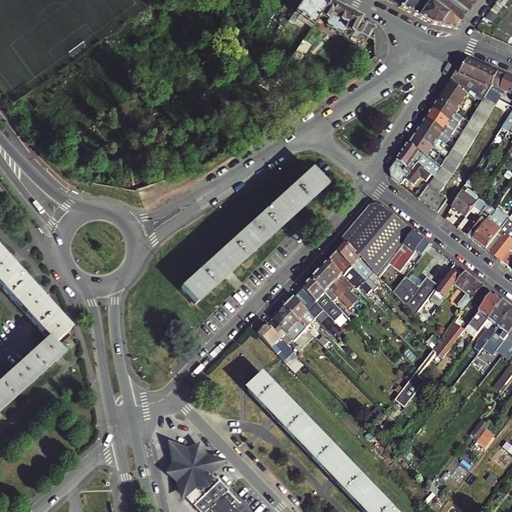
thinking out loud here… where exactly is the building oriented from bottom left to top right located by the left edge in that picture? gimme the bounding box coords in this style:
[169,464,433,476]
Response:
[0,334,67,413]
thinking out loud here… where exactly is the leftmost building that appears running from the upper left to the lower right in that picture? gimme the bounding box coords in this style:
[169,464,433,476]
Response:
[0,242,75,342]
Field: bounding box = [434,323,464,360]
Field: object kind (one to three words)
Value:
shed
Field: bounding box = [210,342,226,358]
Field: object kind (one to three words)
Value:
vehicle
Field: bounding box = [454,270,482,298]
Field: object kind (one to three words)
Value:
house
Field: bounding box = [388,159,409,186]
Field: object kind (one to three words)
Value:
building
